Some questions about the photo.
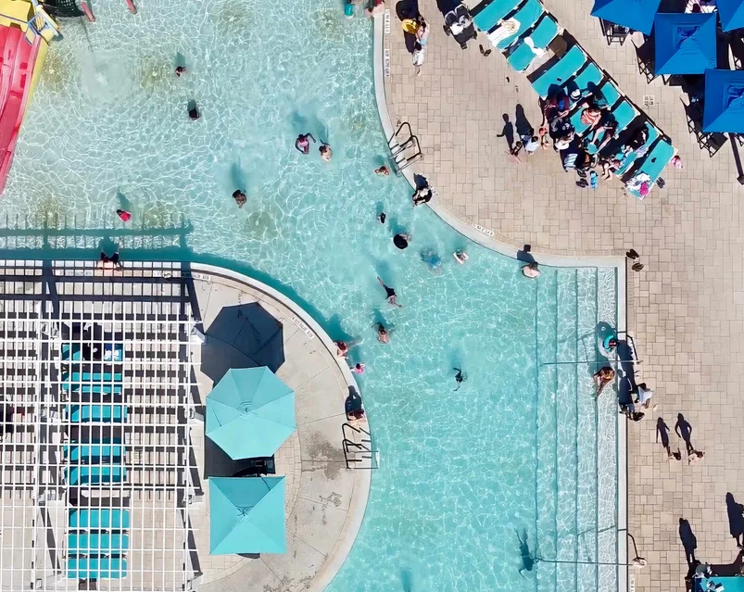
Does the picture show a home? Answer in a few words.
No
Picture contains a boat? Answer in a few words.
No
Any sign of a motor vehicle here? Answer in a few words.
No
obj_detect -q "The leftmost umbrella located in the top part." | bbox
[581,0,659,45]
